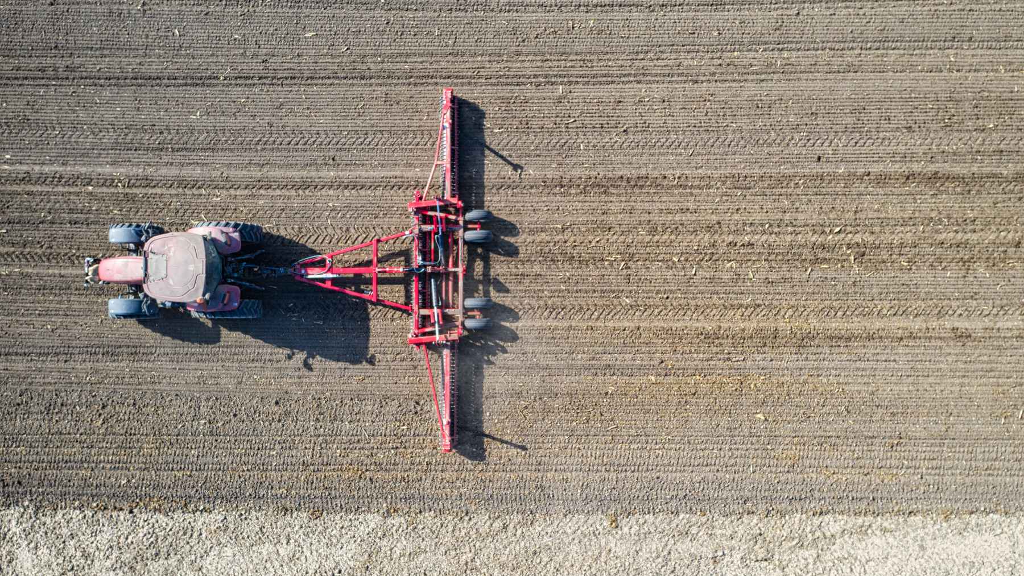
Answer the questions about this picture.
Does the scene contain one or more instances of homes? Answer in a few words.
No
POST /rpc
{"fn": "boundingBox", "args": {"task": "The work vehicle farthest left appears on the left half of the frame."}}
[84,218,284,320]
